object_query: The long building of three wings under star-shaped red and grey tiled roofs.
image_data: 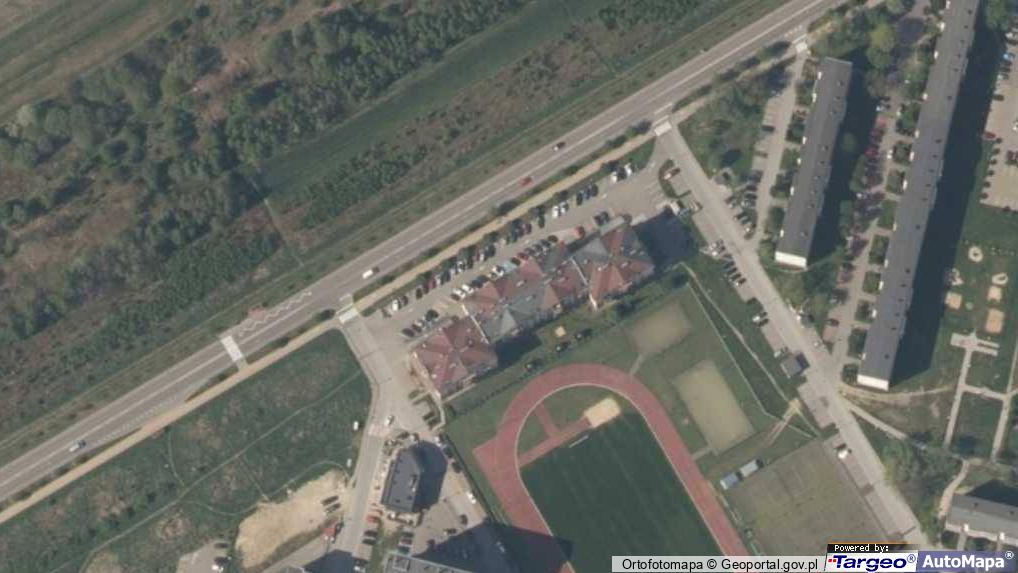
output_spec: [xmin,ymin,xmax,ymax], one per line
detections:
[416,226,648,395]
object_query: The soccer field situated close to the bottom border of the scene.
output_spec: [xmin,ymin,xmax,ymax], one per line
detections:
[523,398,727,573]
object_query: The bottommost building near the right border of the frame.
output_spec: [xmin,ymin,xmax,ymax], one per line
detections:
[944,494,1018,550]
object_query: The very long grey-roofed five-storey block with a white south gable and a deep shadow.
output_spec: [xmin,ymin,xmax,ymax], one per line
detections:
[856,0,982,390]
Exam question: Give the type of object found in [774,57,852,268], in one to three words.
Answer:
building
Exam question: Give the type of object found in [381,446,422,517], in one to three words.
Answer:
building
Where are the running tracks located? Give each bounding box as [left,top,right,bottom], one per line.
[474,364,752,573]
